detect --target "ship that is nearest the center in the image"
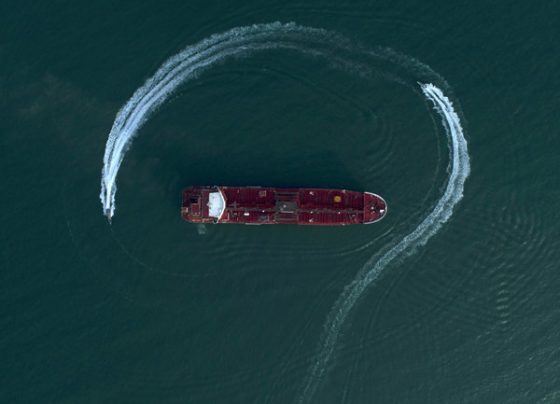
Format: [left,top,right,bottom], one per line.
[182,186,388,225]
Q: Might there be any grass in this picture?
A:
No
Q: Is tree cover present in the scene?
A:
No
